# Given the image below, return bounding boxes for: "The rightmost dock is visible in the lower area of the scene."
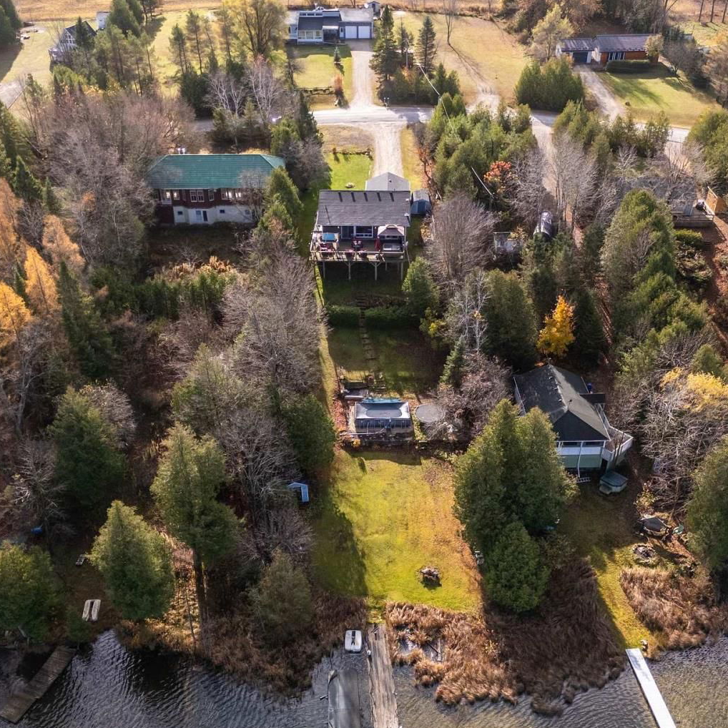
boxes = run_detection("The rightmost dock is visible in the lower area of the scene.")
[627,649,674,728]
